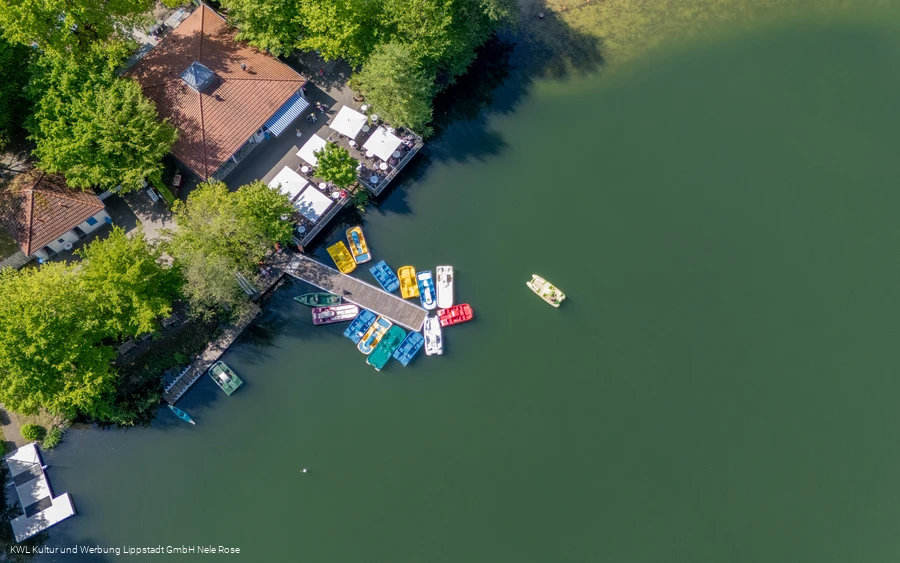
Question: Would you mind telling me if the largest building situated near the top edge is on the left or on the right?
left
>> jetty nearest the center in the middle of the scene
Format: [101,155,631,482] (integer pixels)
[287,253,428,331]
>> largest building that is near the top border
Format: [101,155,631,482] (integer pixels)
[111,8,315,185]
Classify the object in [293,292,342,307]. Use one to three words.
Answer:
boat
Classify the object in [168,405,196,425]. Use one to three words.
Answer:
boat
